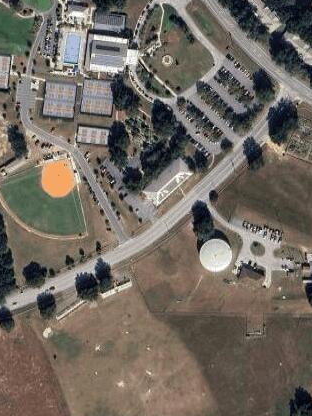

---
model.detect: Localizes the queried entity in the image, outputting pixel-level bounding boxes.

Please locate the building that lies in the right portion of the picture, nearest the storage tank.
[239,262,266,281]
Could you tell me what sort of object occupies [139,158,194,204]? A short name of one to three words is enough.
building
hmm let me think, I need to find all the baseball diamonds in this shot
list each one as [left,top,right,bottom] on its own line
[0,159,87,239]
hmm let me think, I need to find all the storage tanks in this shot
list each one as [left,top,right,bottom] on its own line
[200,239,233,271]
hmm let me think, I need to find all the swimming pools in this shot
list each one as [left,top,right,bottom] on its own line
[64,32,81,64]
